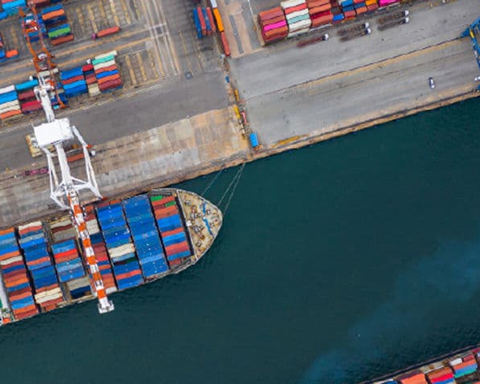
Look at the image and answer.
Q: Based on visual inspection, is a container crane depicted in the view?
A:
Yes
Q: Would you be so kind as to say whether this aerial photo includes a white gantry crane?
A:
Yes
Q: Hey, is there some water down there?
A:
Yes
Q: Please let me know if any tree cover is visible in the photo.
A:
No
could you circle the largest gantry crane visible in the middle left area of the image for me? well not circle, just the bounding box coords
[35,75,119,313]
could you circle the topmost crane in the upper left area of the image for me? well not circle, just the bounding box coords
[18,3,56,62]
